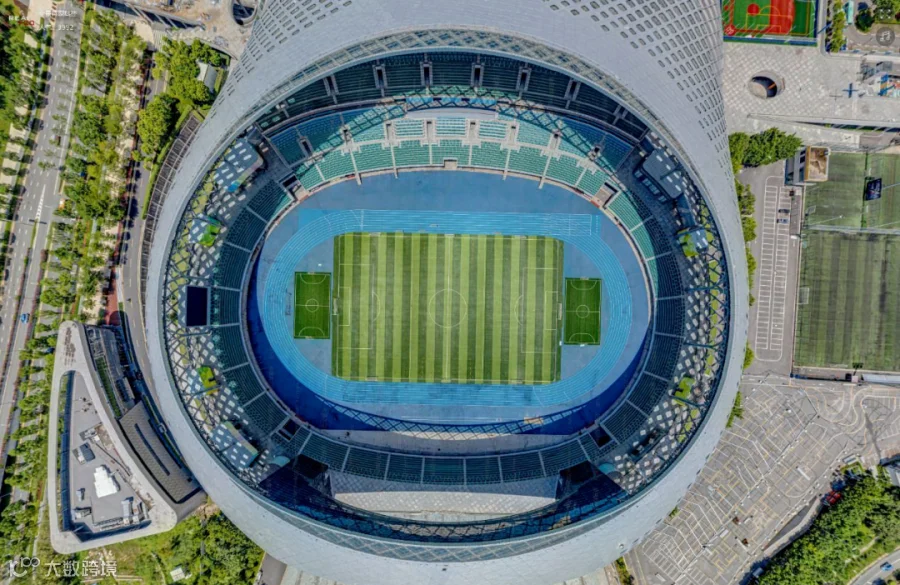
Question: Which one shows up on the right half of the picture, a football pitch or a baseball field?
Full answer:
What appears on the right half of the picture is a football pitch.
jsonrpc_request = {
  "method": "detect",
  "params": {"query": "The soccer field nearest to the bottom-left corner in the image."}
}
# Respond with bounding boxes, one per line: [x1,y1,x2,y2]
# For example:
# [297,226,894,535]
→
[294,271,331,339]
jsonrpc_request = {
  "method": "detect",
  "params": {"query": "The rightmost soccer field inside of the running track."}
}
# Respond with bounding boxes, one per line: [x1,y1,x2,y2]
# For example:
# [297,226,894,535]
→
[563,278,601,346]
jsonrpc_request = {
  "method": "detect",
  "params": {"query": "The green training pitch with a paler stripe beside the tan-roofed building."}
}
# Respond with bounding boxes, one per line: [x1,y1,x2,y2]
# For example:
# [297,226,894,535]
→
[803,152,900,227]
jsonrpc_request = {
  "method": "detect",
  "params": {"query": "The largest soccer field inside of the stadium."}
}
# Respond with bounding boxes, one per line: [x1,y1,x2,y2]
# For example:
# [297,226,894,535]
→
[333,233,562,382]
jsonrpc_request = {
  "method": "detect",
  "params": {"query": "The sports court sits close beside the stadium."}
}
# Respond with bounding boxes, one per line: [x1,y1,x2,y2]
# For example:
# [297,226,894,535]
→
[719,0,824,47]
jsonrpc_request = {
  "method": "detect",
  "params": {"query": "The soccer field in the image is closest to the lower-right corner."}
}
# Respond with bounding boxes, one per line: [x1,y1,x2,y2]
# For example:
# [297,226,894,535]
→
[795,233,900,370]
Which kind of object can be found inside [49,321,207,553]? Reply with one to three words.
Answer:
building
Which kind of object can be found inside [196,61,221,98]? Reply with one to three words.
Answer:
house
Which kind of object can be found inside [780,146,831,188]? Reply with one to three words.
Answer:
building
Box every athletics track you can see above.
[263,209,633,425]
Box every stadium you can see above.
[145,0,749,585]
